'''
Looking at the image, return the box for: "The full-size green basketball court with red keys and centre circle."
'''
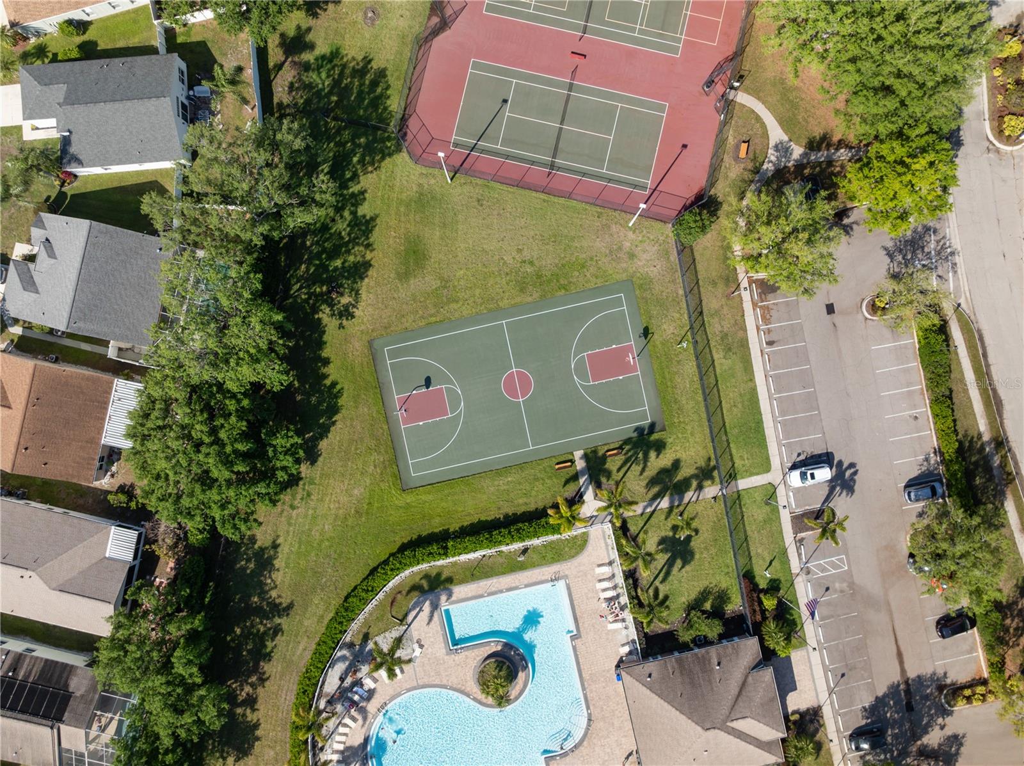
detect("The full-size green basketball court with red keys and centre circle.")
[370,280,666,490]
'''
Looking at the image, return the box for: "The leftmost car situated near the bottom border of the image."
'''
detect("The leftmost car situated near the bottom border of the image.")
[845,727,888,752]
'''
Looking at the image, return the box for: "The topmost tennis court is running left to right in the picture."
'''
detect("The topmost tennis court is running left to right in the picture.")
[483,0,727,56]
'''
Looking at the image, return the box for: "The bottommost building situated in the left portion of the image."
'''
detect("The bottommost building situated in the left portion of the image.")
[0,639,129,766]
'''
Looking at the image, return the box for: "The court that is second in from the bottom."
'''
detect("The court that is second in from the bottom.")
[451,60,668,192]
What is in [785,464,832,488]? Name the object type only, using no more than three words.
car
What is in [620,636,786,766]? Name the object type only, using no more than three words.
building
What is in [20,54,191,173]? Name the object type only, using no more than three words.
house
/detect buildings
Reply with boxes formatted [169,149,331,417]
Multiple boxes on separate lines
[0,639,129,766]
[3,0,156,36]
[0,497,152,636]
[620,636,786,766]
[20,54,191,173]
[0,357,142,484]
[3,213,235,345]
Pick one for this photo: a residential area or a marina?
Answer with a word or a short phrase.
residential area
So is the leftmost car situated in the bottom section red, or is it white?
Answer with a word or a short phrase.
white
